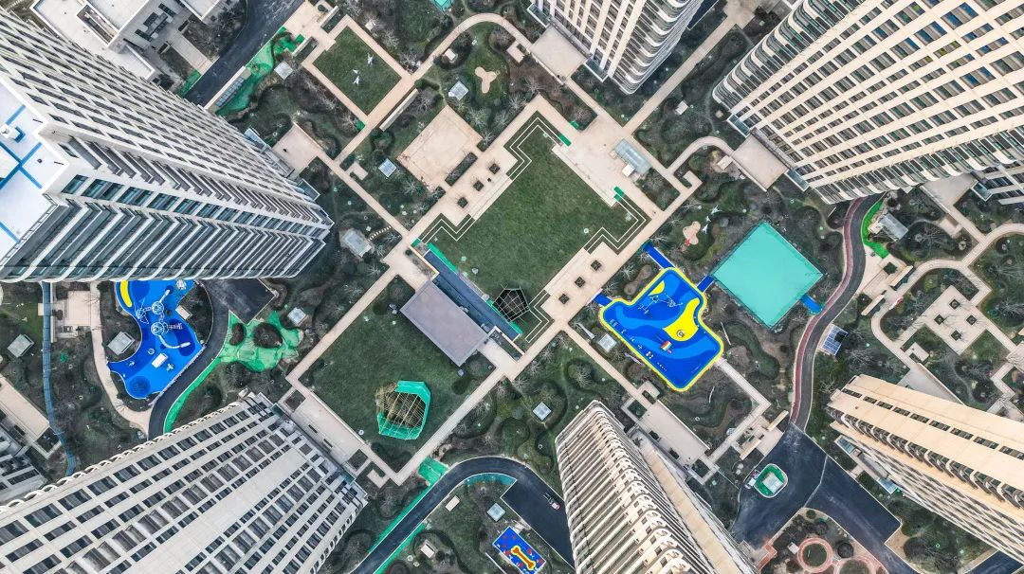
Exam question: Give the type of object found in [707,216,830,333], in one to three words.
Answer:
sports court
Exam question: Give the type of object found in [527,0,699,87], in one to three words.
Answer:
building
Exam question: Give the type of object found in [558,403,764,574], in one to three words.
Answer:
building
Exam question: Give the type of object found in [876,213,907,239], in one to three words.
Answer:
shed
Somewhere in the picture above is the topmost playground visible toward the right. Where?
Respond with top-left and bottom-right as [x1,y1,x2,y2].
[601,268,723,390]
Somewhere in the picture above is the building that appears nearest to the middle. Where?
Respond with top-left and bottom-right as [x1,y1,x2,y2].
[400,279,488,367]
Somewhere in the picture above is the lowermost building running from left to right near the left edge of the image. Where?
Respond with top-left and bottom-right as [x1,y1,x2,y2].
[0,400,362,574]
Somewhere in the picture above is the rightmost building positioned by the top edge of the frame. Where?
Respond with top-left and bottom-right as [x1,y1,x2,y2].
[719,0,1024,199]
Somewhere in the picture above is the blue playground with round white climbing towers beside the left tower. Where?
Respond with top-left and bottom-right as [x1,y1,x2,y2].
[107,272,204,399]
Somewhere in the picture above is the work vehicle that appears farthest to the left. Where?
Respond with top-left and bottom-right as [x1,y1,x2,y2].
[540,490,560,509]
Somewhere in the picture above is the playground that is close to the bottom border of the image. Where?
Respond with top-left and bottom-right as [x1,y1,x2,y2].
[492,526,546,574]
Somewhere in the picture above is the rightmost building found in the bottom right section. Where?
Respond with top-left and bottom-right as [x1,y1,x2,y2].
[825,374,1024,563]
